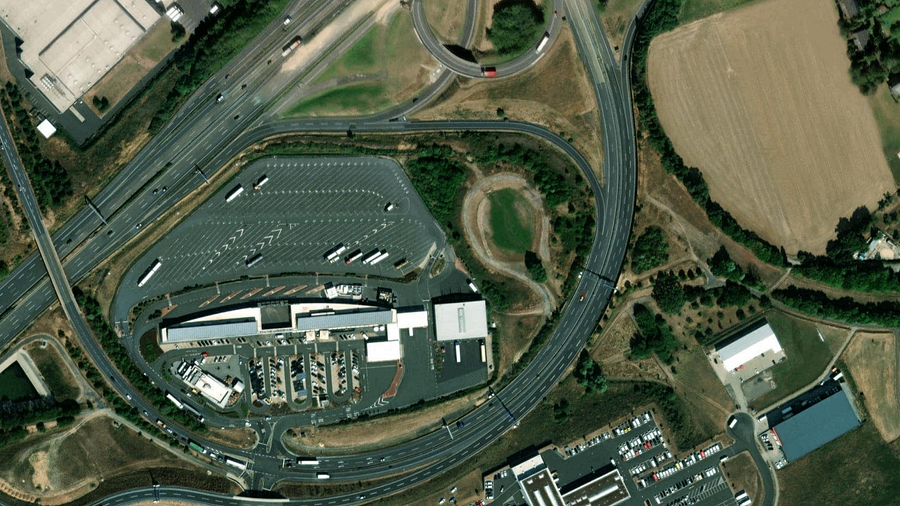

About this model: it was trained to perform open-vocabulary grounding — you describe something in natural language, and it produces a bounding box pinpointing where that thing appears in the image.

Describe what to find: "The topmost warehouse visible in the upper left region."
[0,0,161,112]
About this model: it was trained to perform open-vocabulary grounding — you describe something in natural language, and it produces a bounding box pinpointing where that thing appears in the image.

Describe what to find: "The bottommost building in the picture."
[512,455,631,506]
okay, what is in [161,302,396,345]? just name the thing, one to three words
building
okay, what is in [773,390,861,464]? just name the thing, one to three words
building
